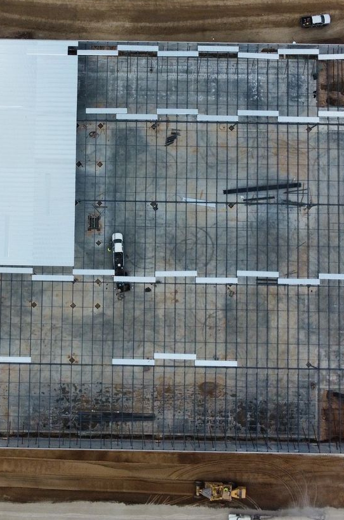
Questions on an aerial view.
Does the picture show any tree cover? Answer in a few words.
No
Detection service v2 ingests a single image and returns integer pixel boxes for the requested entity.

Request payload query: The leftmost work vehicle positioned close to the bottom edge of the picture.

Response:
[195,479,246,501]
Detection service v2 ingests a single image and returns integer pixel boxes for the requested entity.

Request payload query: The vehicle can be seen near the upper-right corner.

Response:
[299,14,331,30]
